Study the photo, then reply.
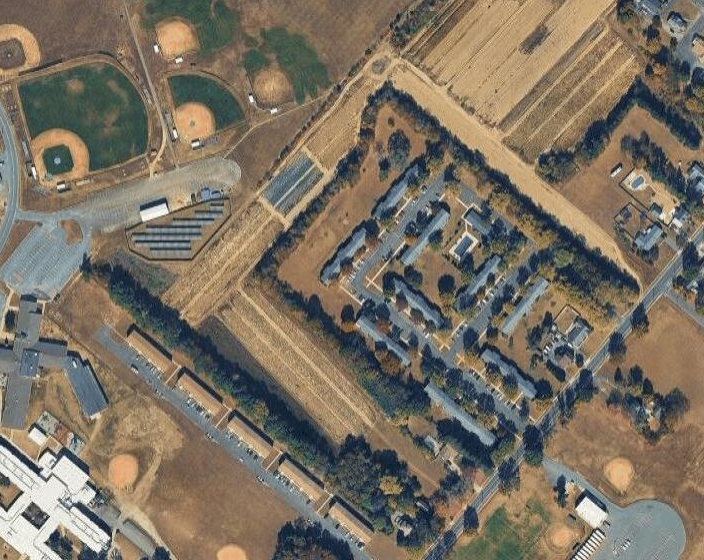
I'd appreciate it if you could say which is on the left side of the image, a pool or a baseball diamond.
baseball diamond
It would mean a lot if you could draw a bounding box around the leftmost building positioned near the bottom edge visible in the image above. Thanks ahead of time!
[0,446,110,560]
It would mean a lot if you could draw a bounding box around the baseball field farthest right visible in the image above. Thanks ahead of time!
[606,459,633,497]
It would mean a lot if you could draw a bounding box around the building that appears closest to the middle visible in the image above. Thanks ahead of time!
[316,225,369,284]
